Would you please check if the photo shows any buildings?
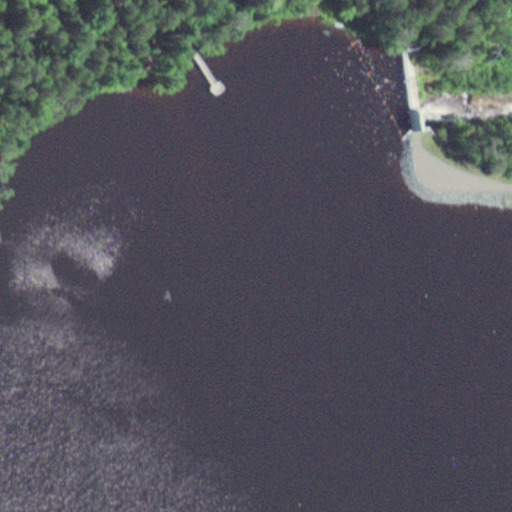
No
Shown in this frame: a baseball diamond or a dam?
dam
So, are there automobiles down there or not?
No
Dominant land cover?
water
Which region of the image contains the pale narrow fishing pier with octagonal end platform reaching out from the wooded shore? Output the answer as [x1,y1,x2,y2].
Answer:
[191,50,224,96]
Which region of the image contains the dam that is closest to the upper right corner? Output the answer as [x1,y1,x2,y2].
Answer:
[402,46,448,140]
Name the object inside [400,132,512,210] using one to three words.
dam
